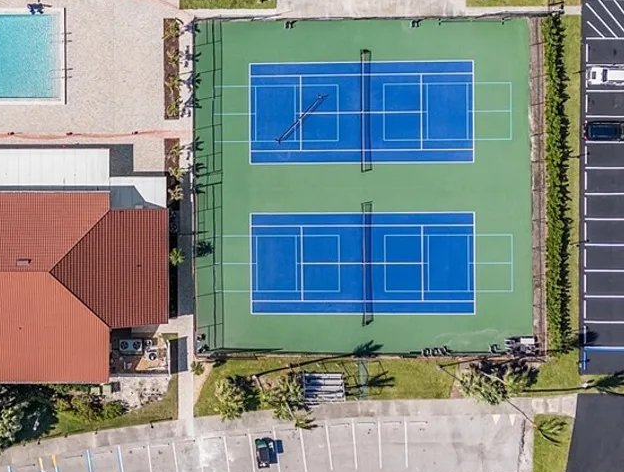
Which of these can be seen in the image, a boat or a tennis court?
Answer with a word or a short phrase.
tennis court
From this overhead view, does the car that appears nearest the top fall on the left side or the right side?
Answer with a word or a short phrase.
right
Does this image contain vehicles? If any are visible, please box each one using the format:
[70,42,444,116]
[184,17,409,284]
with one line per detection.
[584,64,624,86]
[582,121,624,141]
[257,438,273,467]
